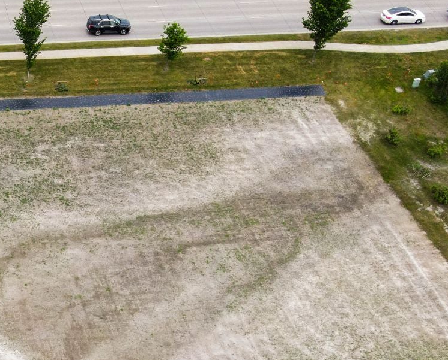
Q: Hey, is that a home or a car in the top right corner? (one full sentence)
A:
The feature located in the top right corner is a car.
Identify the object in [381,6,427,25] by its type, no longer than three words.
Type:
car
